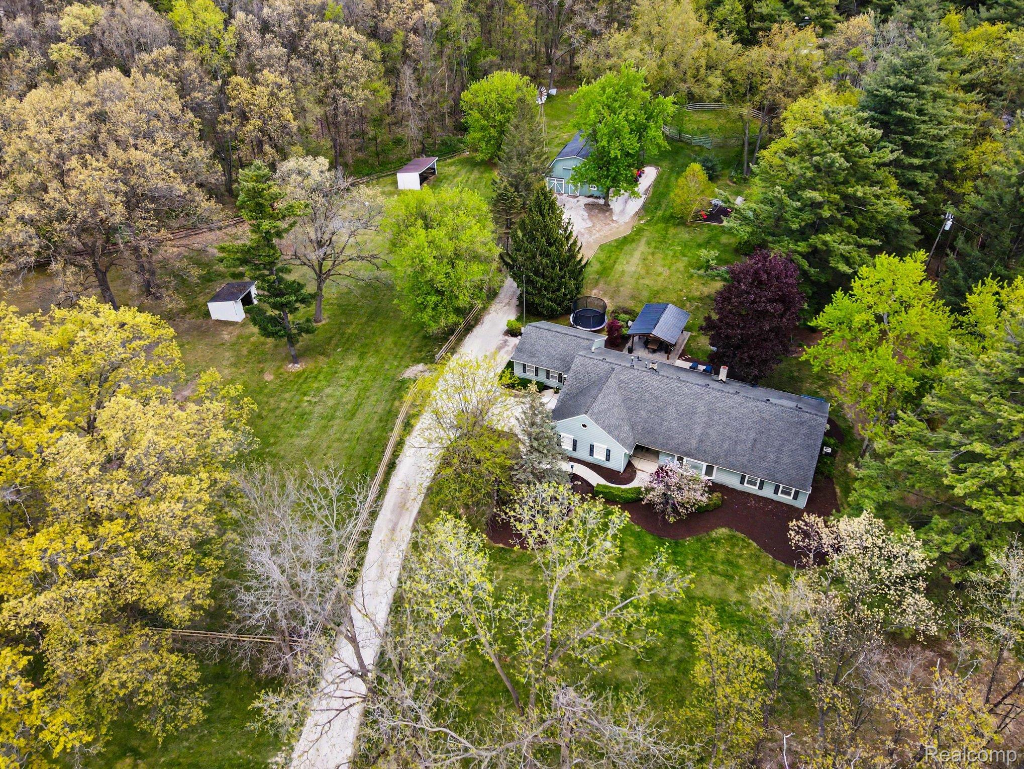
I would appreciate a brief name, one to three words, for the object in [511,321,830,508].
house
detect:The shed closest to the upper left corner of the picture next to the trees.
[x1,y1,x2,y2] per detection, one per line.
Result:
[203,280,258,321]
